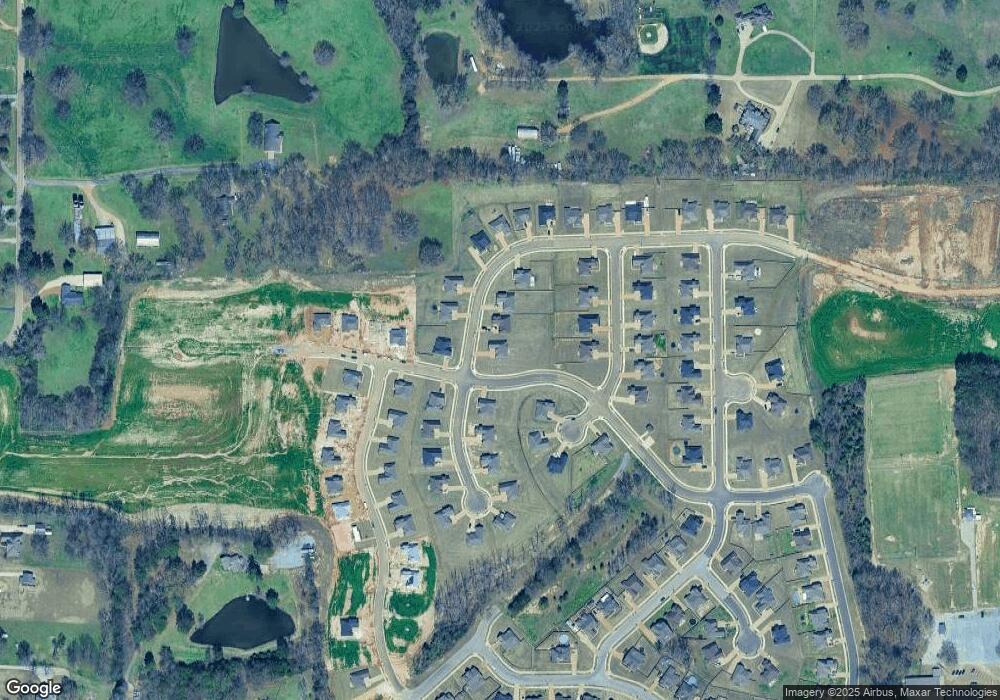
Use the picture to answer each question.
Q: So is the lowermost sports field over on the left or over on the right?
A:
right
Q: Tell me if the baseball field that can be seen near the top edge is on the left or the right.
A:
right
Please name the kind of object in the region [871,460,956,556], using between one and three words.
sports field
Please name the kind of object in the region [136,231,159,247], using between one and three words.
shed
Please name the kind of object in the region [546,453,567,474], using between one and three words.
house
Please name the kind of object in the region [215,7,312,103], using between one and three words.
pond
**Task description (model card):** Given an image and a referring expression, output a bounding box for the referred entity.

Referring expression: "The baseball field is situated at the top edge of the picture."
[639,15,707,74]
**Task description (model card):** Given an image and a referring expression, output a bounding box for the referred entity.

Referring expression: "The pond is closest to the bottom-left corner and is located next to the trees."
[190,595,294,648]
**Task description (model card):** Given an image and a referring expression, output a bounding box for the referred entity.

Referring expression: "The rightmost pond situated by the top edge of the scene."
[494,0,609,64]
